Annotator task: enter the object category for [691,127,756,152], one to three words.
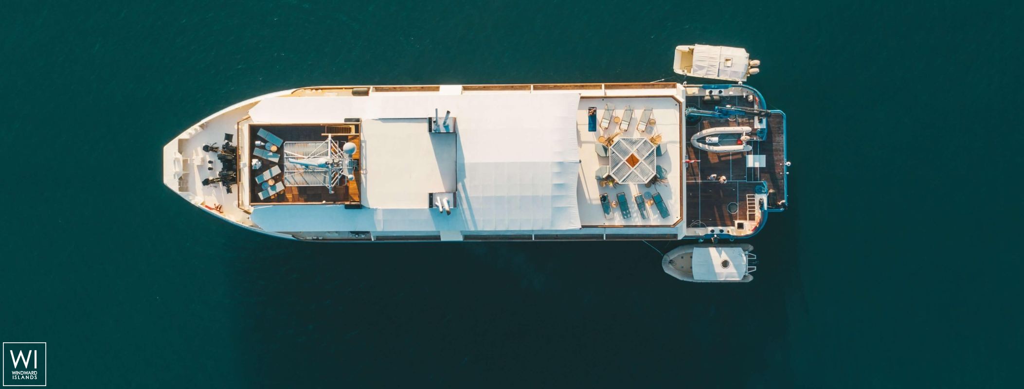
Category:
boat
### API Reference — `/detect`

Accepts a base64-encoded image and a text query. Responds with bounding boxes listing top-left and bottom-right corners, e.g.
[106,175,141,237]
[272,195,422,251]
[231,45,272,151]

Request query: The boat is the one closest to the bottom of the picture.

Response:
[662,243,757,283]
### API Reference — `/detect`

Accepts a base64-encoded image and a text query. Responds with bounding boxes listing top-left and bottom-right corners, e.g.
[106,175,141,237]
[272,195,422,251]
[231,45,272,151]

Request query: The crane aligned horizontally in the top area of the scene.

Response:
[687,104,771,126]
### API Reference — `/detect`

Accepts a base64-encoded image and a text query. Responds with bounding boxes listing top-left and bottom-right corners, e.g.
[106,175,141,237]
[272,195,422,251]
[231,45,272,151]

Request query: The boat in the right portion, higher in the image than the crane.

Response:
[674,44,760,81]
